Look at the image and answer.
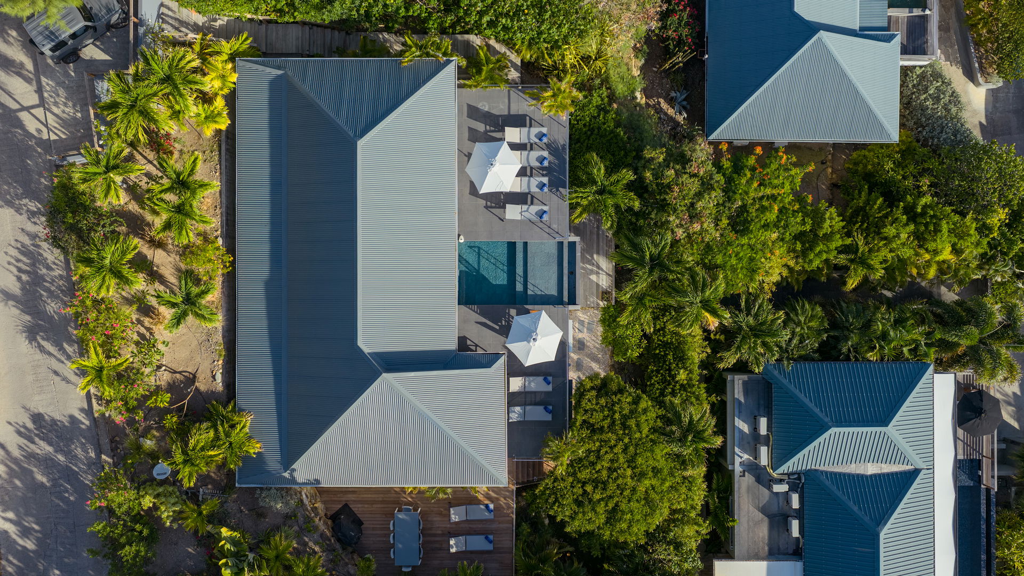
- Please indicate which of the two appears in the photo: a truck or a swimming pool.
swimming pool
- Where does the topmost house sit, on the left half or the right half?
right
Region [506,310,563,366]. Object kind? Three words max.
umbrella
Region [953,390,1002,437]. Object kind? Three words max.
umbrella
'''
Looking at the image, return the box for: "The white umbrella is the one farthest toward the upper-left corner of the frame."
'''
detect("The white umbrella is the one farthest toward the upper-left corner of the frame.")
[466,141,522,194]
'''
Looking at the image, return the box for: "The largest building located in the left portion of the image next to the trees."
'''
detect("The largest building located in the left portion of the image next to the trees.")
[235,56,508,488]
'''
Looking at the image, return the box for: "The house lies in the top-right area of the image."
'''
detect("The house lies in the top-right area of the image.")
[702,0,901,144]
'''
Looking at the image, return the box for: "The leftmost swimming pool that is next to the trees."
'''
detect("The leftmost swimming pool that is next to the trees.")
[458,238,580,310]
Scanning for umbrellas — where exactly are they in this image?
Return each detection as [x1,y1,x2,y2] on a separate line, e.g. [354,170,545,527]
[953,390,1002,437]
[466,141,522,194]
[506,310,563,366]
